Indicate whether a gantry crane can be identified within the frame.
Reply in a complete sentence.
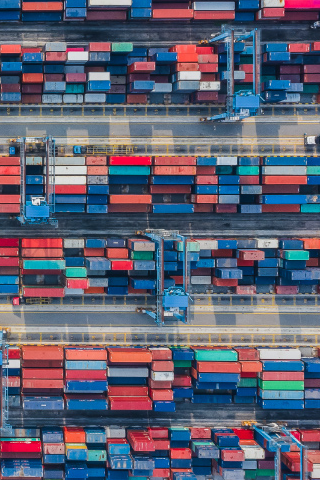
Yes, the image includes a gantry crane.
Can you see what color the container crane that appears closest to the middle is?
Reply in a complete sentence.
The container crane that appears closest to the middle is blue.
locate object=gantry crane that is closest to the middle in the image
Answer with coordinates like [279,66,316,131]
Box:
[131,228,191,325]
